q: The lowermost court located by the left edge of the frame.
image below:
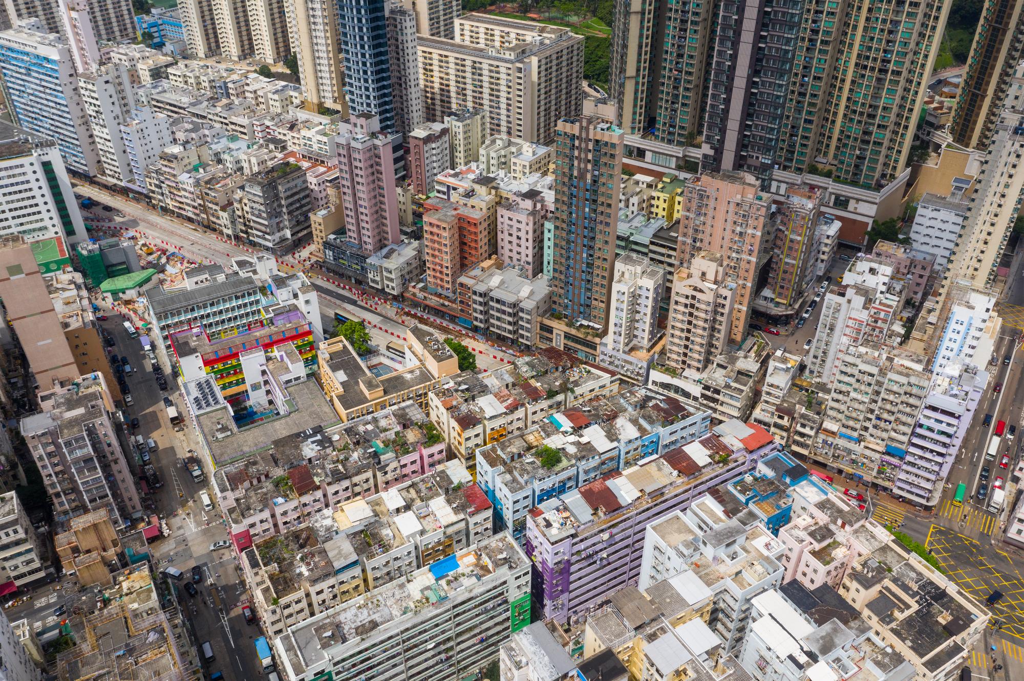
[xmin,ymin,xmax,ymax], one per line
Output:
[32,237,72,266]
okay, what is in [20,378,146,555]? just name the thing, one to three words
building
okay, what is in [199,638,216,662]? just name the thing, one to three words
vehicle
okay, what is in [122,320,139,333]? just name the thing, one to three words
vehicle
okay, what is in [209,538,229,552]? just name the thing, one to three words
car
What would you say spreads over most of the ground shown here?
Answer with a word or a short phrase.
buildings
